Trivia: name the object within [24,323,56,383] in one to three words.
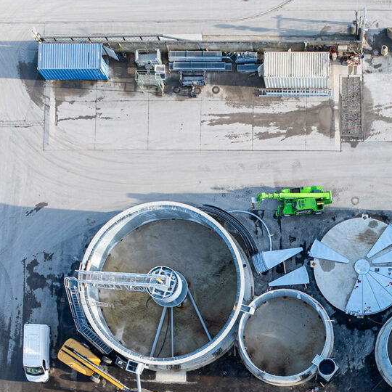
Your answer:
van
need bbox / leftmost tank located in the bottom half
[59,200,252,392]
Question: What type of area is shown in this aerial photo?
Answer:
industrial area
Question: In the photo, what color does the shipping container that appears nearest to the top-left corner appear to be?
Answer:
blue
